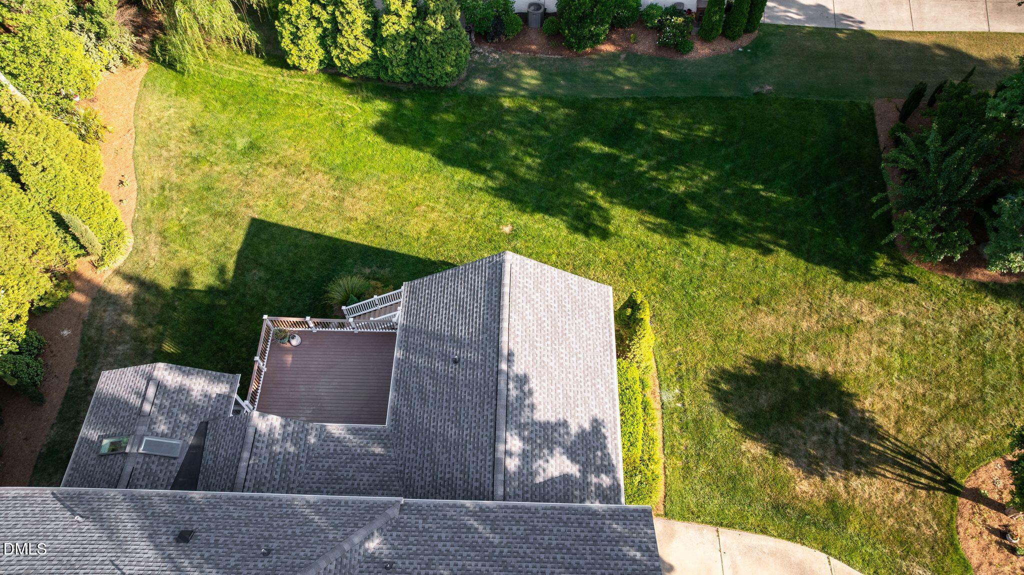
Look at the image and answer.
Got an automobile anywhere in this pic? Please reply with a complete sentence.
No, the frame has no automobile in it.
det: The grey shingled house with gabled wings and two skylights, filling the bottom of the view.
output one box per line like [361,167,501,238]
[0,252,665,575]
